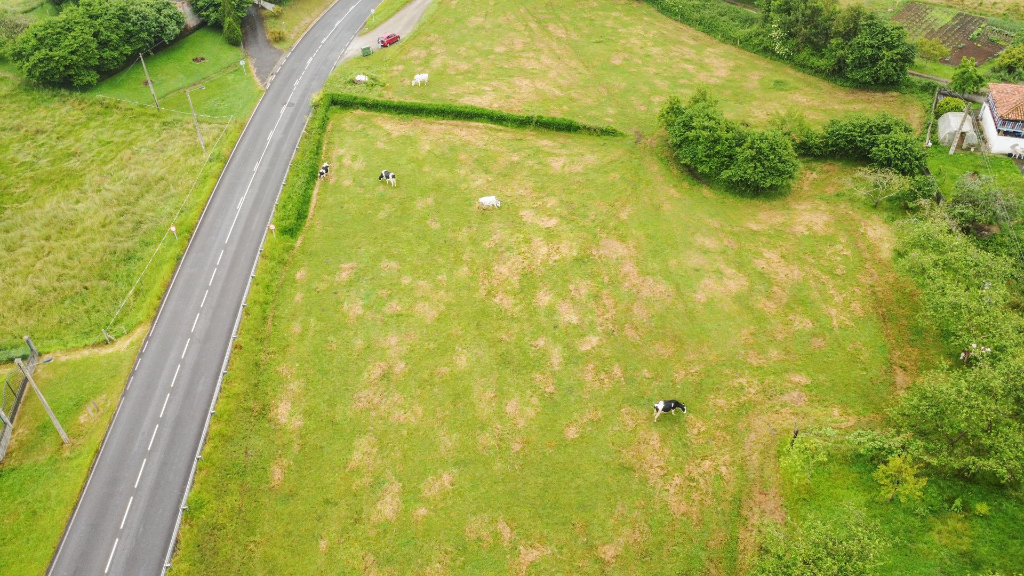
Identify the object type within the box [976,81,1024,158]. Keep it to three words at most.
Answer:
house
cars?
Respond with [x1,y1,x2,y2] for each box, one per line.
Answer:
[375,32,400,47]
